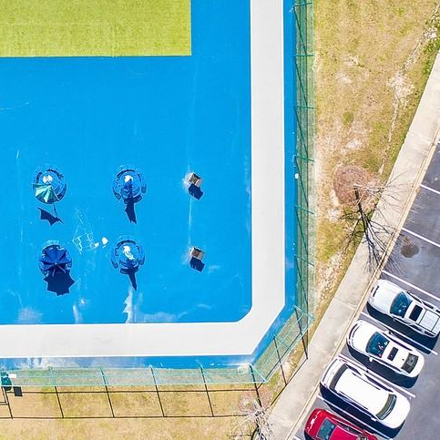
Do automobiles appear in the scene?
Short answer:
Yes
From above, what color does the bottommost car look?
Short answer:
red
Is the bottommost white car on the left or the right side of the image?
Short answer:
right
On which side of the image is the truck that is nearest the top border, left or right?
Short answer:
right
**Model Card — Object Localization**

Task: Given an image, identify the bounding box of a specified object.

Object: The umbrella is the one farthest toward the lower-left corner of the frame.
[39,246,72,278]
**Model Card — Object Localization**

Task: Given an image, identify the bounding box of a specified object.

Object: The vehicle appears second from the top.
[343,319,424,377]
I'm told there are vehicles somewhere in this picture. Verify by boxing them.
[364,278,440,339]
[343,319,424,377]
[301,408,369,440]
[318,356,407,424]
